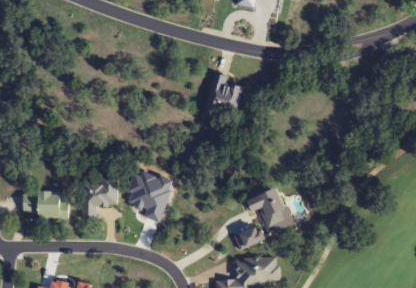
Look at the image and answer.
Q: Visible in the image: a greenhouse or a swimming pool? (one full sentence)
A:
I can see a swimming pool in this picture.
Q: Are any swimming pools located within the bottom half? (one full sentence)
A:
Yes, a swimming pool can be seen within the bottom half.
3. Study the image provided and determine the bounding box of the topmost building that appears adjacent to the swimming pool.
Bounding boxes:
[246,187,294,232]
